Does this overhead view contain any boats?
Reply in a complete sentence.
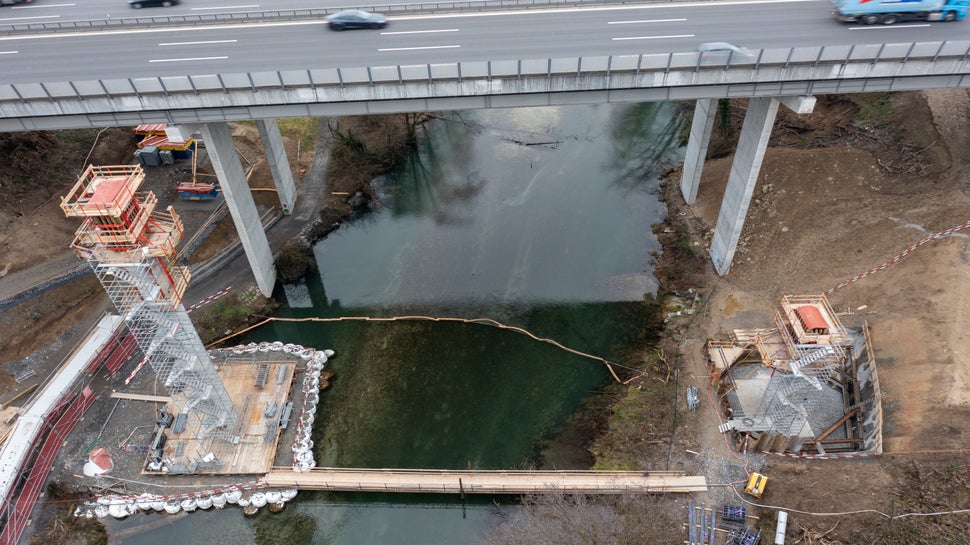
No, there appears to be no boat in this shot.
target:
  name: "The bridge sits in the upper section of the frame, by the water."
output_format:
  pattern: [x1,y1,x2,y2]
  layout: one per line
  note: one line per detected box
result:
[0,0,970,301]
